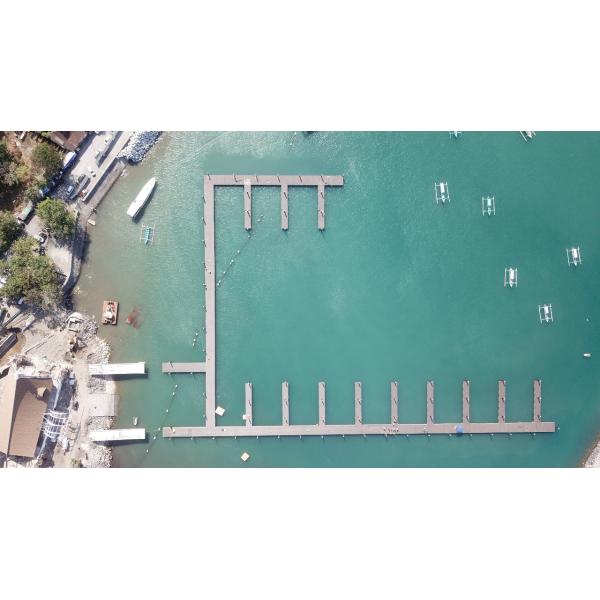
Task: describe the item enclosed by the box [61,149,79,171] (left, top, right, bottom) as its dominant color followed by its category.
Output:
white vehicle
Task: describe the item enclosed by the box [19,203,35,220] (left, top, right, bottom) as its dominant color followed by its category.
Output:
white vehicle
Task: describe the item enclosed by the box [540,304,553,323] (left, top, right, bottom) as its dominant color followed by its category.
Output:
white boat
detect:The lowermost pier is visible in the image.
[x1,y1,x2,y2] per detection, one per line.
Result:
[90,428,146,442]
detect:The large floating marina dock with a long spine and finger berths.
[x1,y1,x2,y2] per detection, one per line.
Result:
[162,176,555,438]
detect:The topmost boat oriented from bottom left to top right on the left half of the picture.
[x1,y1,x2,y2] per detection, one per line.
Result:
[126,178,156,218]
